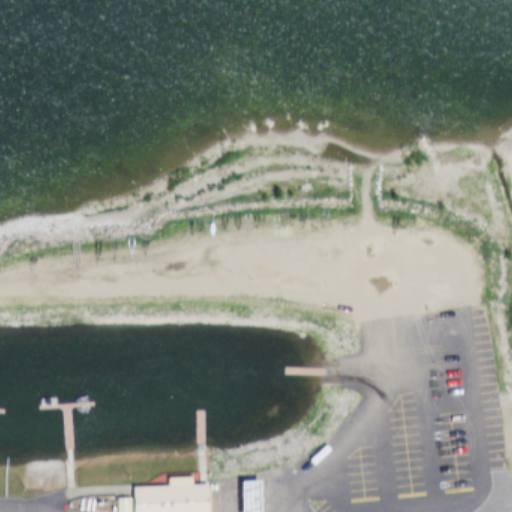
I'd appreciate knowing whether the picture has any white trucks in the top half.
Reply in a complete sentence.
No, there's no white truck to be seen in the top half.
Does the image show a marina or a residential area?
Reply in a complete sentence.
The picture captures a marina.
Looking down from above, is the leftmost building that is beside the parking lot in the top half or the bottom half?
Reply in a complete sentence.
It is in the bottom half that the leftmost building that is beside the parking lot appears.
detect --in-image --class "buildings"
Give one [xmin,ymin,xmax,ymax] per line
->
[119,498,132,512]
[134,476,211,512]
[243,481,264,512]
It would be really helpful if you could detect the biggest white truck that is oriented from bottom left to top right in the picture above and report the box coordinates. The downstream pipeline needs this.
[303,446,331,472]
